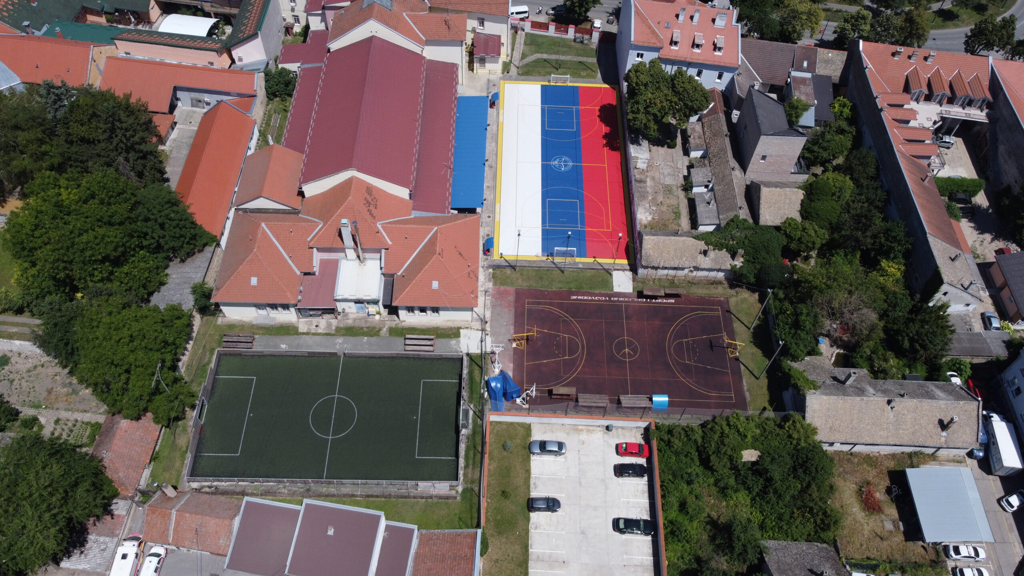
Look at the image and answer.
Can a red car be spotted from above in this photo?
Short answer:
Yes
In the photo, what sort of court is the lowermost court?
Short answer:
basketball court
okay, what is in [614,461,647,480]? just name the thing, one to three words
car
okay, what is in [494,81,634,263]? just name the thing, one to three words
sports court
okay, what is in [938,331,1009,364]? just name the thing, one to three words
shed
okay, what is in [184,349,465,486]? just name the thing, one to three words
soccer field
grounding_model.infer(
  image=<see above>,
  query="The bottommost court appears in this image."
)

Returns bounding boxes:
[490,286,749,413]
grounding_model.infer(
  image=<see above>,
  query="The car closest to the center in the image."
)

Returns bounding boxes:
[529,438,566,457]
